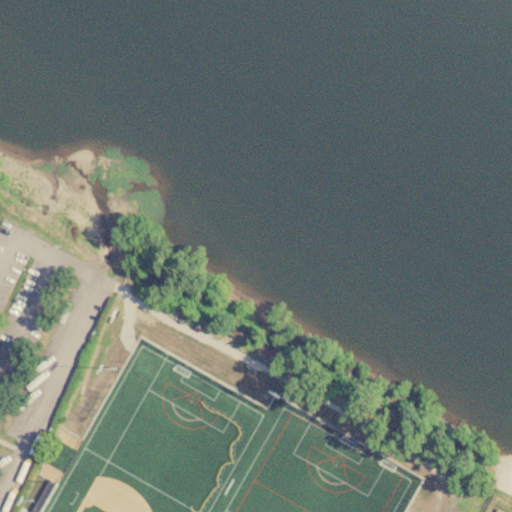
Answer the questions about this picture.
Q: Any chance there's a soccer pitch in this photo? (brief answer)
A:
Yes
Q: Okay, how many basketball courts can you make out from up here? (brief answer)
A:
zero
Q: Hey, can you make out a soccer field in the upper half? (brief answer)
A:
No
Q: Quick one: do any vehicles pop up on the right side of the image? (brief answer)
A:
No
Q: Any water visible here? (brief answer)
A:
Yes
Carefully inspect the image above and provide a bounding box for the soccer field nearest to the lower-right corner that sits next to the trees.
[221,402,422,512]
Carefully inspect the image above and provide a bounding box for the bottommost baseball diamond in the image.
[77,476,153,512]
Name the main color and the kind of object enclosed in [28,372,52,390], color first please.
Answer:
white vehicle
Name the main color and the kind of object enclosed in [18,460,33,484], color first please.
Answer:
white vehicle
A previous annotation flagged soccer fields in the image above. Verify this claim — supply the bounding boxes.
[221,402,422,512]
[44,342,276,512]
